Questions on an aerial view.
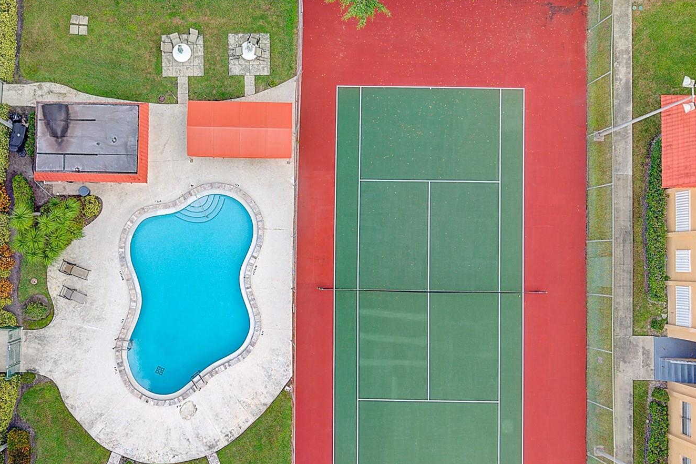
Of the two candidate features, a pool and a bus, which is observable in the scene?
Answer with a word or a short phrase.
pool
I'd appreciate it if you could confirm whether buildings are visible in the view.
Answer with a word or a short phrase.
Yes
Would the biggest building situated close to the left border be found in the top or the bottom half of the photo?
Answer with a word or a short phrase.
top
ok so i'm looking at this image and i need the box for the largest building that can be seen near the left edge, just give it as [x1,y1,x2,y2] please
[34,101,148,182]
